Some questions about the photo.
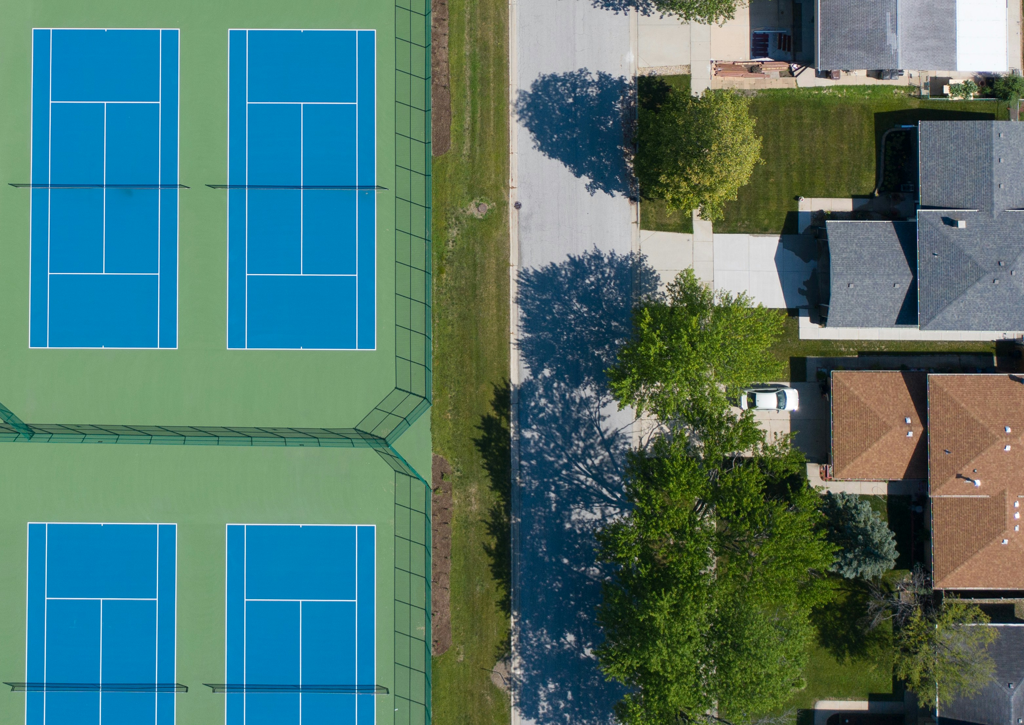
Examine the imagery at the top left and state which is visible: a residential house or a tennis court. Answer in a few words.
tennis court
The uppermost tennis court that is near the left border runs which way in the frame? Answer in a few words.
from top to bottom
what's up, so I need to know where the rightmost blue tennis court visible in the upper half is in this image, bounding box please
[227,28,376,350]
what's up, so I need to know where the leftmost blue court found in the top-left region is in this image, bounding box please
[29,28,180,349]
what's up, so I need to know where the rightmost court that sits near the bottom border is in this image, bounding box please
[225,524,376,725]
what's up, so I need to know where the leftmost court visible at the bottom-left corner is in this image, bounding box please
[25,523,177,725]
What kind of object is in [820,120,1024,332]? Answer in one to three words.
house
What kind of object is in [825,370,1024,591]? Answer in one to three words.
house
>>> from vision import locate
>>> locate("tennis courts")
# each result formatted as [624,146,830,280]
[227,28,376,350]
[225,524,376,725]
[25,523,177,725]
[29,28,180,349]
